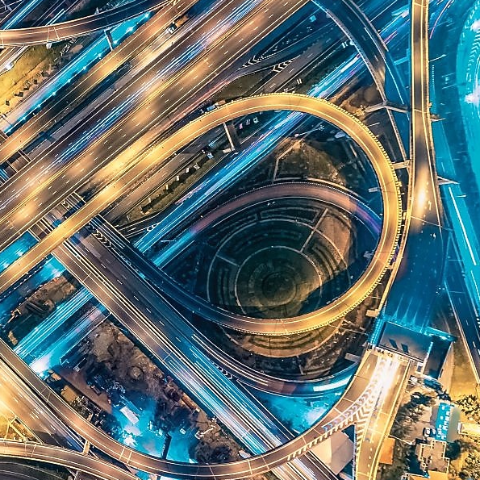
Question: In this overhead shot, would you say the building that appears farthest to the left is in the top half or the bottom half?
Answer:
bottom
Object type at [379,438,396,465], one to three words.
shed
